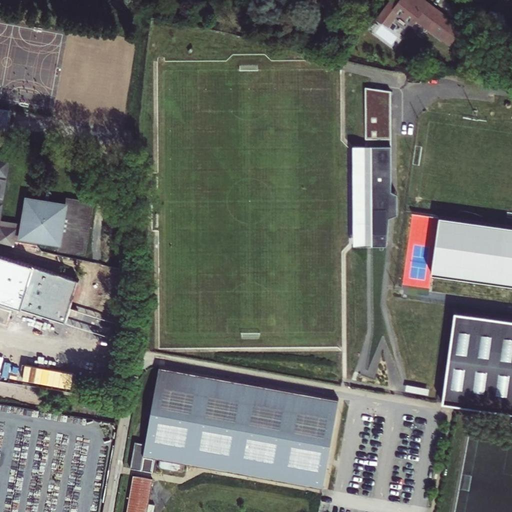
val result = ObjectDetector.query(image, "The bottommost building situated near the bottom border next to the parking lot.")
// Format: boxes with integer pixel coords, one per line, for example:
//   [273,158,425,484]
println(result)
[142,370,338,491]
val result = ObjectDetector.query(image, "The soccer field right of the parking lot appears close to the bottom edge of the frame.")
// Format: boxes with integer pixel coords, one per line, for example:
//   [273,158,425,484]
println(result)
[456,436,512,512]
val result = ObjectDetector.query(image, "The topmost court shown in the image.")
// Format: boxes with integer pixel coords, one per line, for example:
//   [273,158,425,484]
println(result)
[0,22,64,106]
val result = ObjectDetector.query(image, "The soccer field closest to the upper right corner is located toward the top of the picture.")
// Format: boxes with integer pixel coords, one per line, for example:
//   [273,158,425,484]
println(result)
[412,102,512,214]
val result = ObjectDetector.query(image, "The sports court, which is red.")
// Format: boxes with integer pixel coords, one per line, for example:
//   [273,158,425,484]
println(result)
[402,214,438,289]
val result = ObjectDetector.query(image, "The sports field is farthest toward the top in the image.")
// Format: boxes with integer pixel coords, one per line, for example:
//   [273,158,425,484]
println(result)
[54,34,134,120]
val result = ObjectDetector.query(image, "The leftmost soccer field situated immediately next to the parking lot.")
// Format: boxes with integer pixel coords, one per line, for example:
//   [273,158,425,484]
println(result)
[158,62,341,348]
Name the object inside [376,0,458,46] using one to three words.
house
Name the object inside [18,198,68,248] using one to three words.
house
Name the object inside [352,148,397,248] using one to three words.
building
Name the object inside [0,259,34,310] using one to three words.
building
